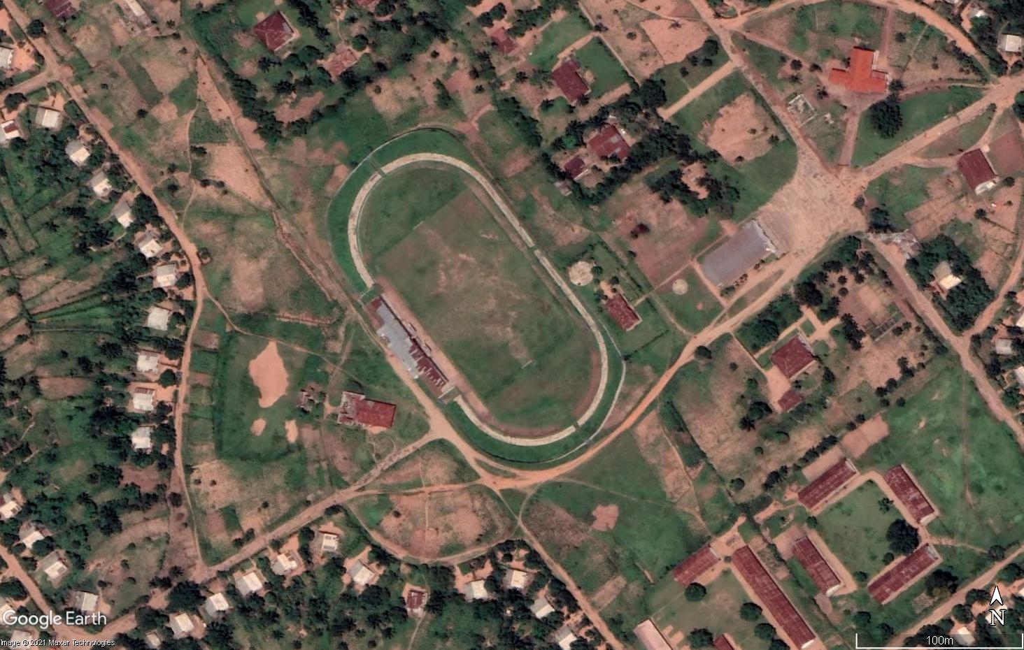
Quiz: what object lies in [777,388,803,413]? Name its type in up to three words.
shed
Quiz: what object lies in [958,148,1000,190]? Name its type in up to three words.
building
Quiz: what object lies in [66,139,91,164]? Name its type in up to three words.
house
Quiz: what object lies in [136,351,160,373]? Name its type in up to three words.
house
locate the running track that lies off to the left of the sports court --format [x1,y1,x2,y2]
[360,163,599,437]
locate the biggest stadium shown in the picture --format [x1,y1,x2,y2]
[325,127,624,464]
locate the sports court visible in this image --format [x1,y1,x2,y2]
[842,415,886,458]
